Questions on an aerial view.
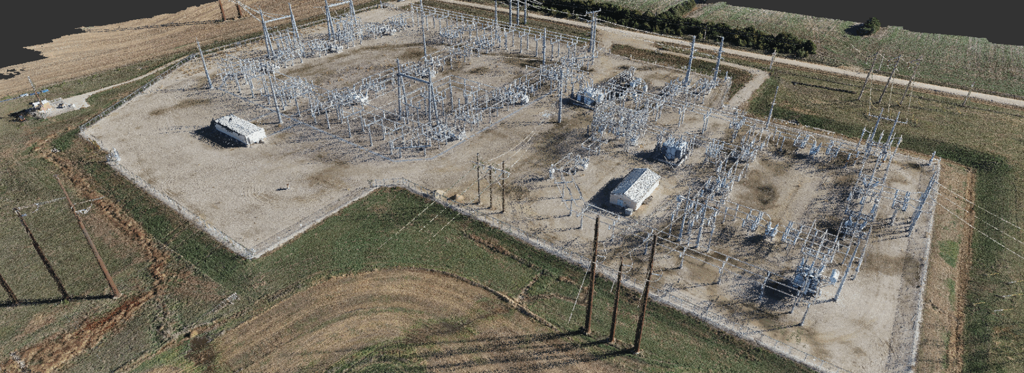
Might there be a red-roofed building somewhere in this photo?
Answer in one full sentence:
No, there is no red-roofed building in the image.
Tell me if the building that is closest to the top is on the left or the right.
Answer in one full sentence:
The building that is closest to the top appears in the left half of the scene.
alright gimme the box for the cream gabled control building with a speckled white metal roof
[609,167,659,211]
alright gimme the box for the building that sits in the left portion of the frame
[211,116,264,148]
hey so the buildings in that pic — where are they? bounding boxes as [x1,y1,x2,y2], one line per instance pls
[211,116,264,148]
[609,167,659,211]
